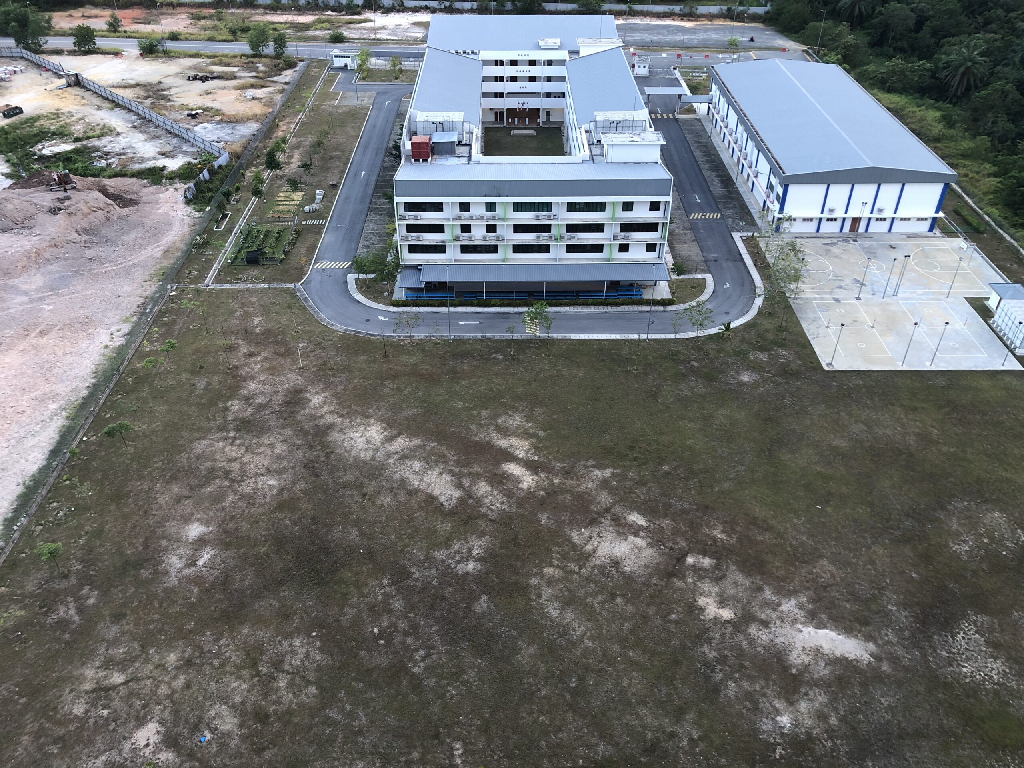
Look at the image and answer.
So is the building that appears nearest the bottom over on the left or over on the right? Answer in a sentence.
It is on the right.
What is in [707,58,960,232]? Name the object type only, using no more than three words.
building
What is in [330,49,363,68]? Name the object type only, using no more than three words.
shed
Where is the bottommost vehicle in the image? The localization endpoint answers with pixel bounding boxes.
[50,165,79,190]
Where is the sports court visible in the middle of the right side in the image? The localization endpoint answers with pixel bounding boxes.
[760,238,1024,370]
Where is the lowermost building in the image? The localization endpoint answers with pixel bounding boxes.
[977,283,1024,313]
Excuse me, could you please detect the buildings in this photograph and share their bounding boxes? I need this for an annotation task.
[392,14,674,299]
[60,70,83,86]
[707,58,960,232]
[977,283,1024,313]
[330,49,363,68]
